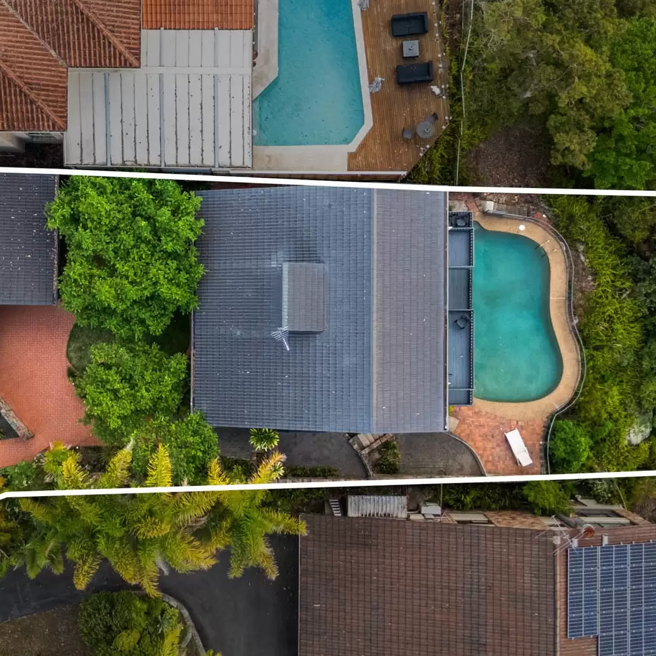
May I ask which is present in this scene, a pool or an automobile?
pool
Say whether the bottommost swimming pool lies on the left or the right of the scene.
right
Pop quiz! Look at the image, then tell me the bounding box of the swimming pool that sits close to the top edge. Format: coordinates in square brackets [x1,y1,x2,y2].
[254,0,372,155]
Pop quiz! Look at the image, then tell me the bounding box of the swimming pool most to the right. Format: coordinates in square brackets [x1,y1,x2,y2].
[450,208,580,421]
